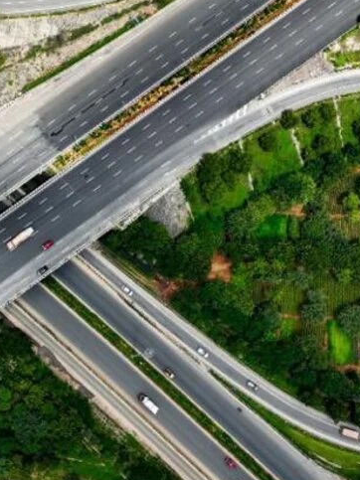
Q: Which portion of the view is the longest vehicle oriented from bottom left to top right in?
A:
left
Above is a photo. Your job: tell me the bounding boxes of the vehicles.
[163,367,175,379]
[121,284,133,295]
[41,240,54,250]
[246,380,260,391]
[36,264,50,276]
[225,458,238,470]
[9,227,35,248]
[198,347,210,358]
[139,393,162,414]
[340,426,360,439]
